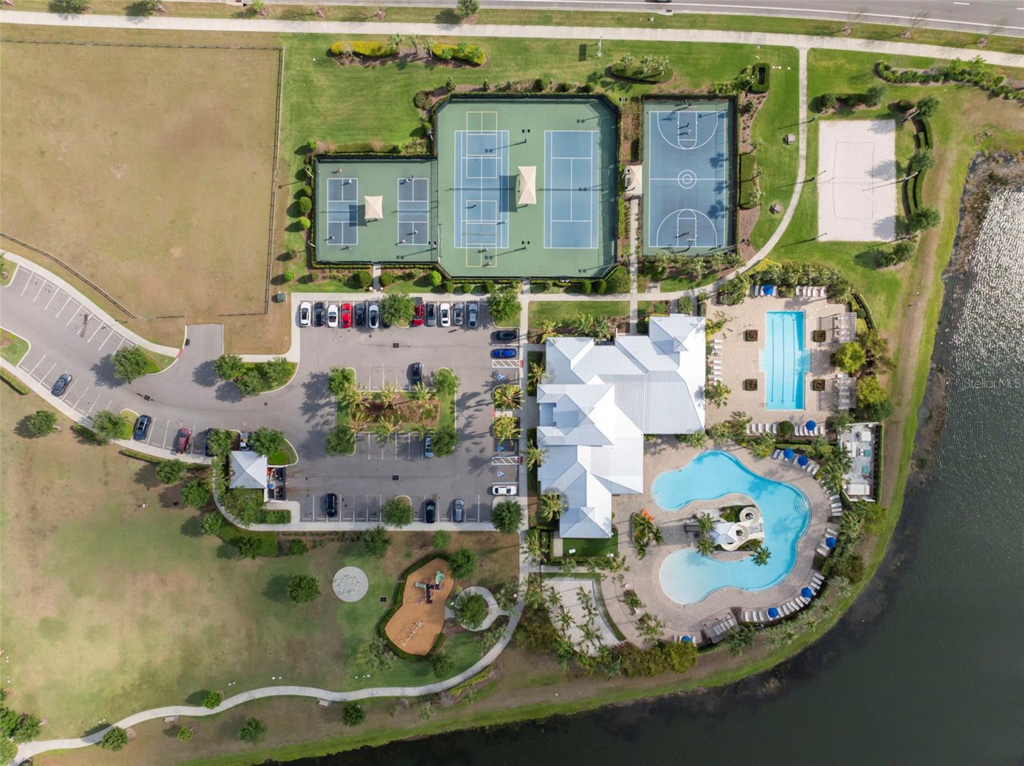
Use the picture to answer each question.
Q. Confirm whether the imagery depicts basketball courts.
Yes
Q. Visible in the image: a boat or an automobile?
automobile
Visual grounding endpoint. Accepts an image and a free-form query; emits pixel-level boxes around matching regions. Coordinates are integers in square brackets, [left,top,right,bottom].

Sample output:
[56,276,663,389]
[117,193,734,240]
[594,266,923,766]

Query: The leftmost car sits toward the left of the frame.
[52,373,72,396]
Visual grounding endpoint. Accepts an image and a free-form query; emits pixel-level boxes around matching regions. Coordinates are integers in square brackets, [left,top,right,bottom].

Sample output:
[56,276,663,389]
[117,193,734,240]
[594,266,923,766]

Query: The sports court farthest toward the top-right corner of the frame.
[818,119,896,242]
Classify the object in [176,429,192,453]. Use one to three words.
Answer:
car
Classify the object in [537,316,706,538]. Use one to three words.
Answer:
building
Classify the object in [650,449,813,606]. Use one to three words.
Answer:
swimming pool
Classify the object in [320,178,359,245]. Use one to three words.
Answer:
sports court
